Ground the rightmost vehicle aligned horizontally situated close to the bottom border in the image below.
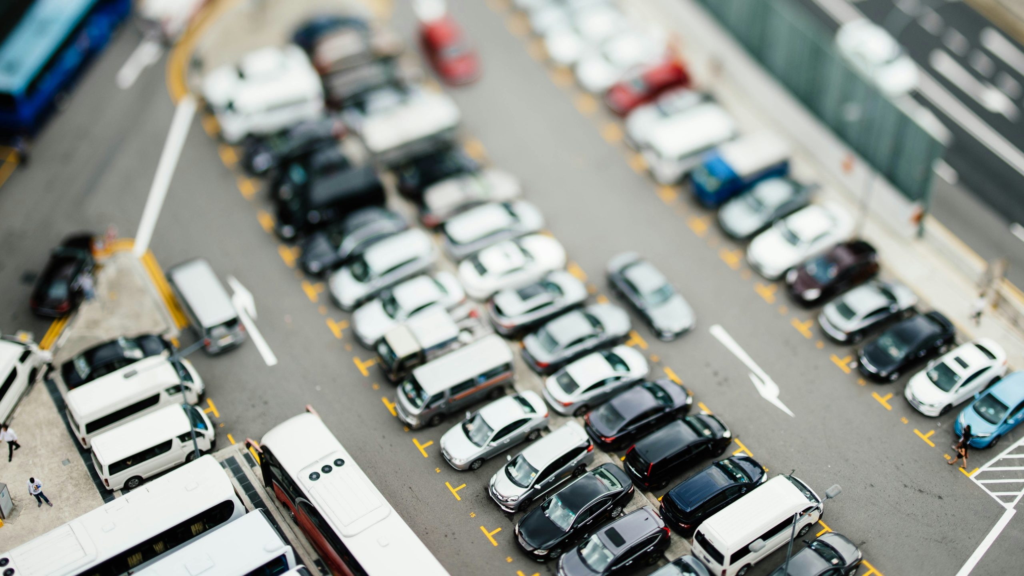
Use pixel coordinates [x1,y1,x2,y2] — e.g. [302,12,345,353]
[759,532,862,576]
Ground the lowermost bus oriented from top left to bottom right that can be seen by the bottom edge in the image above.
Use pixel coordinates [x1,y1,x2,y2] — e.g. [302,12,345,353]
[241,401,447,576]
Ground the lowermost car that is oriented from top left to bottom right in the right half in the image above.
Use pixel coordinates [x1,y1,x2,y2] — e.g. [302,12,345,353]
[610,257,690,342]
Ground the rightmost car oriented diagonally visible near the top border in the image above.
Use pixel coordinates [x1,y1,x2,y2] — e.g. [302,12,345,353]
[843,12,920,81]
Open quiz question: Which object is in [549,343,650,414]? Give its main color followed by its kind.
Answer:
white car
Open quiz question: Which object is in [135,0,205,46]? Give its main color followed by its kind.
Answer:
white truck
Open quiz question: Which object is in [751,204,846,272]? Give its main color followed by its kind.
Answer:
white car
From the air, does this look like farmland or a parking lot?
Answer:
parking lot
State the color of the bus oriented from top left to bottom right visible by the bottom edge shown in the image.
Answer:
white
